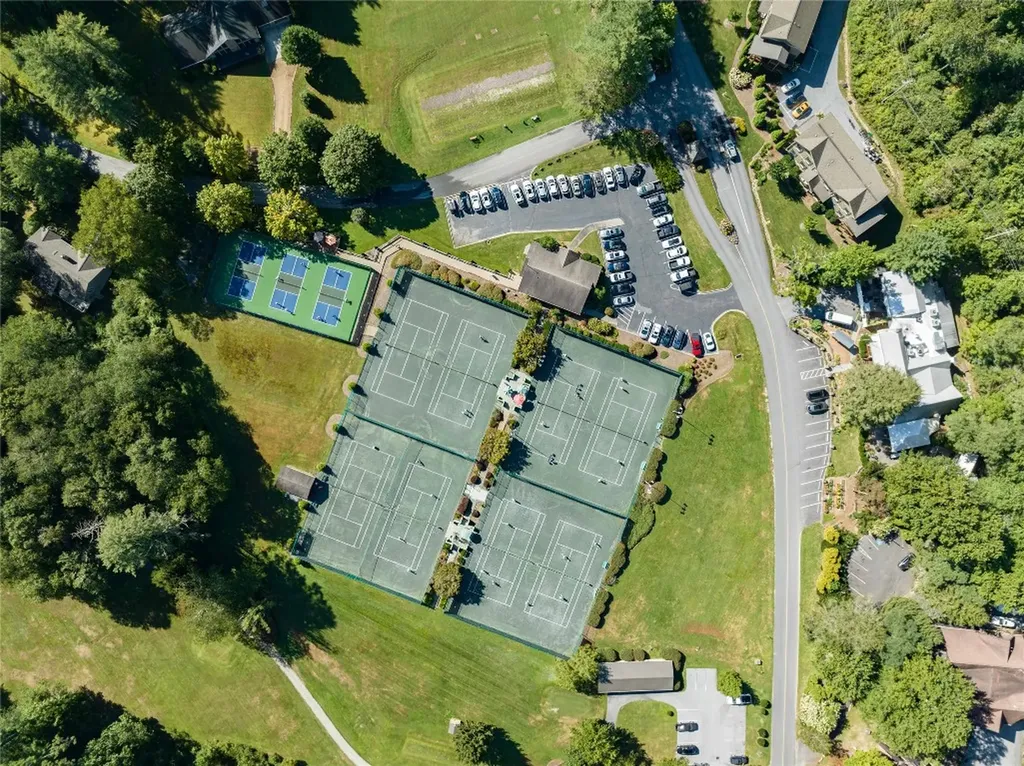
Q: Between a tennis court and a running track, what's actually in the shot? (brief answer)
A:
tennis court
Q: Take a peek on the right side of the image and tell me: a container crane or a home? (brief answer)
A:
home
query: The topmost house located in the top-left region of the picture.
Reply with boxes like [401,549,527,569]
[158,0,307,78]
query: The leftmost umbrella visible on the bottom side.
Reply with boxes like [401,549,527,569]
[459,527,473,540]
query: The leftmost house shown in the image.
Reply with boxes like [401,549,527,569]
[20,225,113,299]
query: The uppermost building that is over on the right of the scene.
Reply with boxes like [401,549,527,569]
[740,0,825,81]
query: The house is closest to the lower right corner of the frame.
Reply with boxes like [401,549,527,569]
[929,626,1024,721]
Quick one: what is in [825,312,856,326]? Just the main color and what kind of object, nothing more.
white vehicle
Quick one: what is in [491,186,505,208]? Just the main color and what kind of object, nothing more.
blue car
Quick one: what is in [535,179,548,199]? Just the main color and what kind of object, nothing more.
white vehicle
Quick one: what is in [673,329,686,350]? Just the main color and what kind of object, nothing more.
blue vehicle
